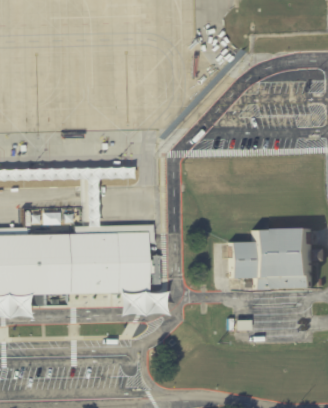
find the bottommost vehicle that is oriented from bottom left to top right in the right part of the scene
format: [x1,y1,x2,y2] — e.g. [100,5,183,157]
[189,128,206,144]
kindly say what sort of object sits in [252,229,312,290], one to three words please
hangar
